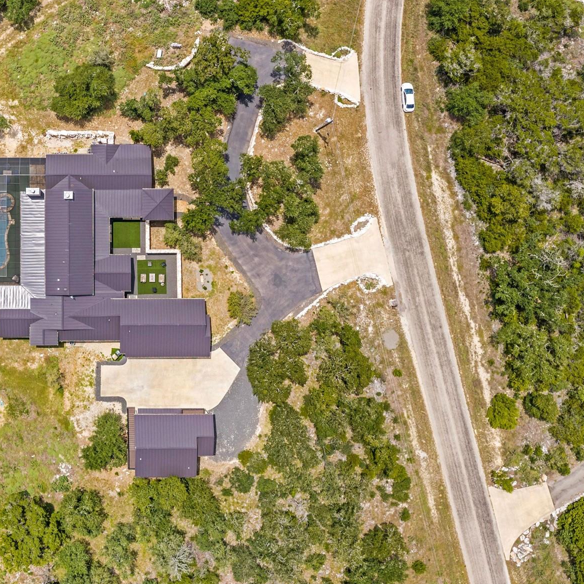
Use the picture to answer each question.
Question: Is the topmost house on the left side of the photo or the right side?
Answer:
left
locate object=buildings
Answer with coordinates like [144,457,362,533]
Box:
[0,144,210,358]
[134,408,214,479]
